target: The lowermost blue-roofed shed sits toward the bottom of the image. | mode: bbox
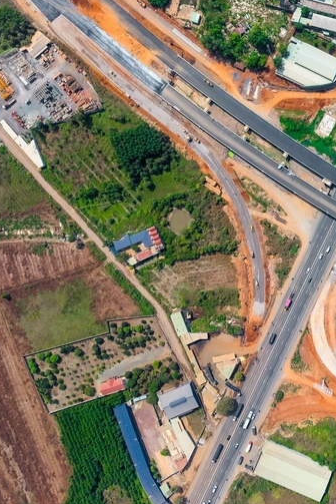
[135,457,170,504]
